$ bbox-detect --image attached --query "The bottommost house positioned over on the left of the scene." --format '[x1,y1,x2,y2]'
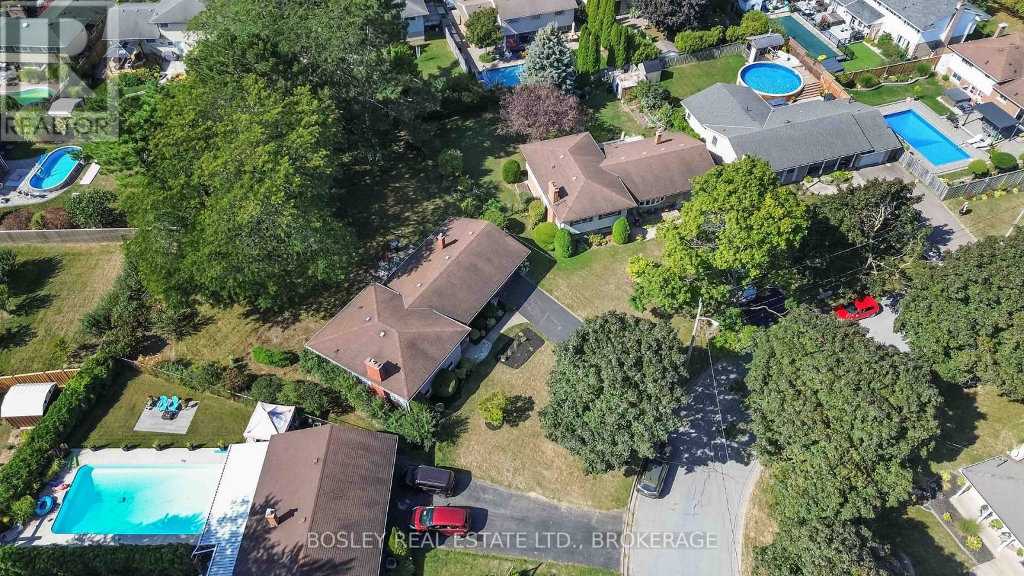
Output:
[193,421,400,576]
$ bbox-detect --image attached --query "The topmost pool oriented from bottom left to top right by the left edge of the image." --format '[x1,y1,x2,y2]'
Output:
[20,146,95,201]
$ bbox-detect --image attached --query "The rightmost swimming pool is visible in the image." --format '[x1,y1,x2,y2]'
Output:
[880,105,976,175]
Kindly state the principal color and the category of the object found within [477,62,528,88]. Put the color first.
blue swimming pool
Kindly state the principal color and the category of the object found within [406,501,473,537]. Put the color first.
red car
